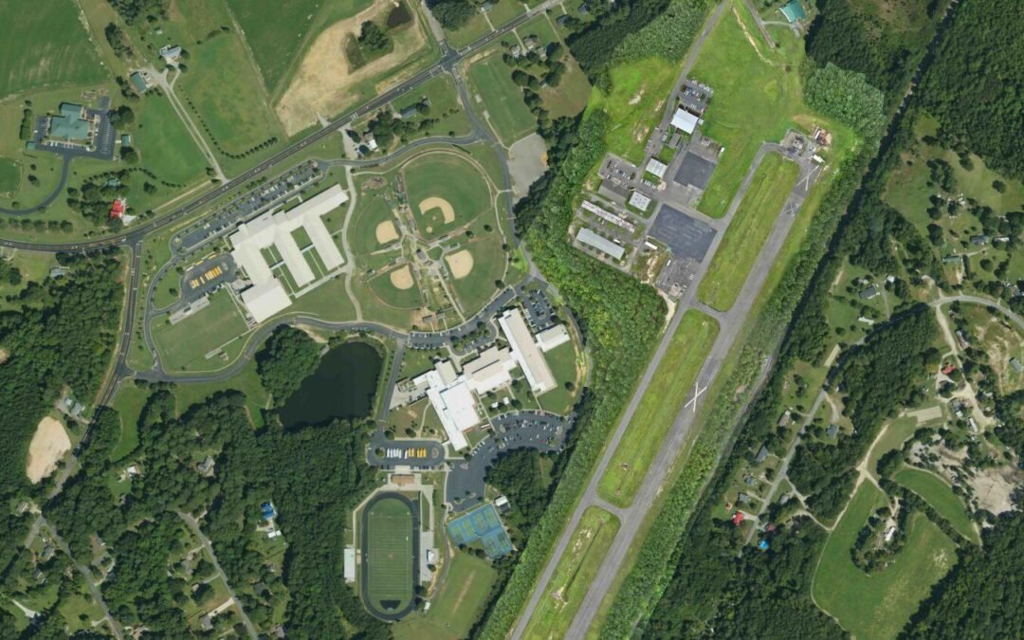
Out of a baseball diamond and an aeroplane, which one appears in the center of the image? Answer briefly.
baseball diamond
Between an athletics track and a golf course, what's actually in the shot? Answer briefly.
athletics track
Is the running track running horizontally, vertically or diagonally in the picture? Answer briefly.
vertically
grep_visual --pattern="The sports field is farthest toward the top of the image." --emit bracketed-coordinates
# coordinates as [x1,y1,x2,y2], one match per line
[475,47,526,145]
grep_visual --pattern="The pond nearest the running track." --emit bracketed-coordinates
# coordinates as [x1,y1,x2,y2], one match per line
[279,341,383,424]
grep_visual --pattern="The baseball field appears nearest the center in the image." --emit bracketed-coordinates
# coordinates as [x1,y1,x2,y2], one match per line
[440,237,506,313]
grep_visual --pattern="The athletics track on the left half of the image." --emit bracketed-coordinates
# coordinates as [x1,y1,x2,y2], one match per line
[361,491,420,621]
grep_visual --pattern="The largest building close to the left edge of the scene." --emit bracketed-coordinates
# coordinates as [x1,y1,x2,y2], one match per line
[50,103,100,140]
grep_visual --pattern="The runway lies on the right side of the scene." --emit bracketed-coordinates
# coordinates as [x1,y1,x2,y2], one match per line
[563,138,825,640]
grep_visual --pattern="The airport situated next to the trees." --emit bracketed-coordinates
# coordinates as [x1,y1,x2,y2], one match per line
[508,129,826,640]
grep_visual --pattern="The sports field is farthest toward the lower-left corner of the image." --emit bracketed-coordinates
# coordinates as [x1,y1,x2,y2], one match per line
[368,498,413,614]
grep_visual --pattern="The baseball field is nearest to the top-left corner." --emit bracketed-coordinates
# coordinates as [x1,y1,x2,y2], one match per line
[351,196,402,254]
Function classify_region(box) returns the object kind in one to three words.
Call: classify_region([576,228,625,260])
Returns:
hangar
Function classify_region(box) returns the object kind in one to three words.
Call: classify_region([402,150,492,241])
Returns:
baseball field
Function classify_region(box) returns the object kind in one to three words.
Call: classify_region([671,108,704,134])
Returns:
hangar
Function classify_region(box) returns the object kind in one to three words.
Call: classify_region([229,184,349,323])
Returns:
building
